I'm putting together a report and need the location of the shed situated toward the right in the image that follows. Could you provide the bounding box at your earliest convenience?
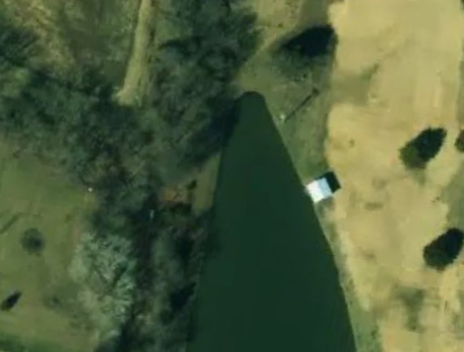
[307,178,332,202]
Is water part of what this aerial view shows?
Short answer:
Yes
